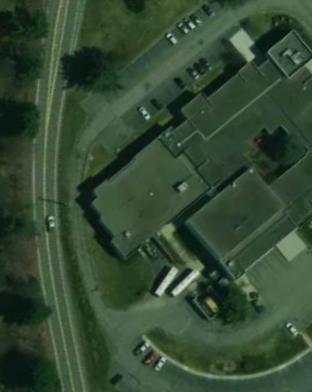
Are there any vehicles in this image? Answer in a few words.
Yes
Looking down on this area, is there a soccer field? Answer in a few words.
No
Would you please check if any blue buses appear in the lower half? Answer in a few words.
No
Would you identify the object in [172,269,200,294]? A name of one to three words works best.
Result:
bus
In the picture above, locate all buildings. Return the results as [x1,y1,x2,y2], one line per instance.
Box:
[89,31,312,279]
